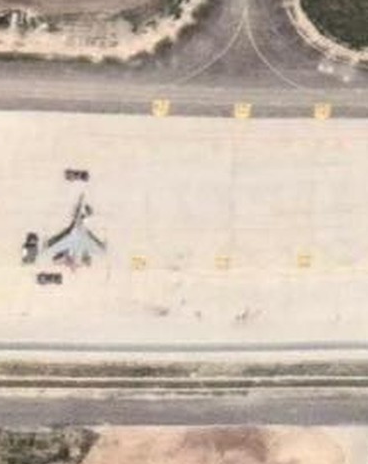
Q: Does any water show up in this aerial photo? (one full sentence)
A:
No, the picture contains no water.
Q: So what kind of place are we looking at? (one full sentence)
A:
This image shows an airport.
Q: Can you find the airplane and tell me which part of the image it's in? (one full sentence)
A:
You can find the airplane in the left area of the picture.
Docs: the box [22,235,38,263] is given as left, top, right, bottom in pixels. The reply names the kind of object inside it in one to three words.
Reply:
vehicle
